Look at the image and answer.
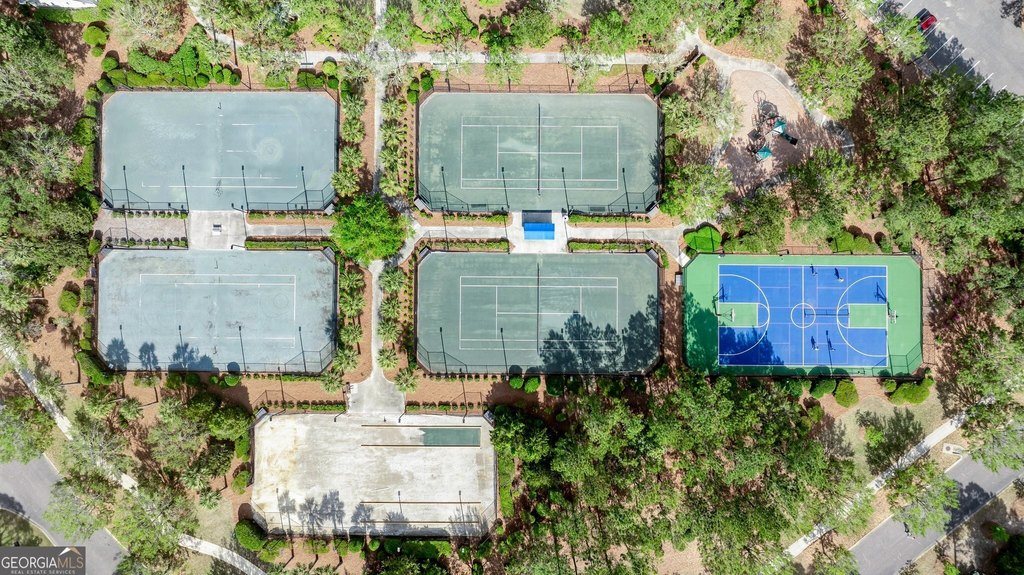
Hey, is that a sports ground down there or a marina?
sports ground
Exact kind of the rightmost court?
basketball court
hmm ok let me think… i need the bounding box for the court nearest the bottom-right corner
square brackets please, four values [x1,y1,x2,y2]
[683,253,923,377]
